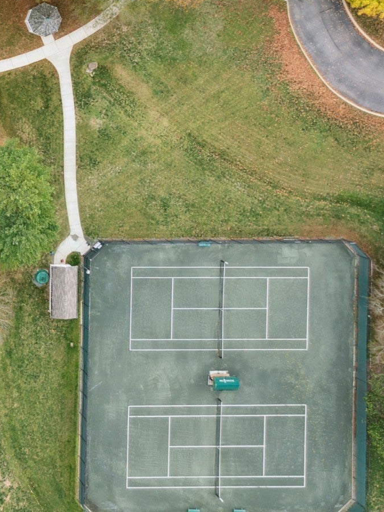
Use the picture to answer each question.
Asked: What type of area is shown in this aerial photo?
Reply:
sports ground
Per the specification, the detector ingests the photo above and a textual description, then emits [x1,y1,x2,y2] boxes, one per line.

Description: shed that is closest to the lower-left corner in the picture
[47,263,78,320]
